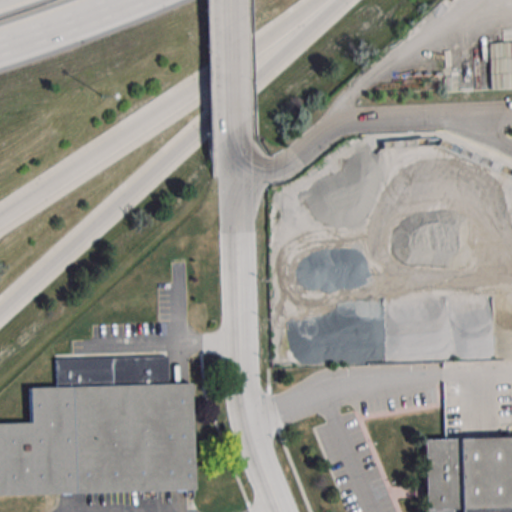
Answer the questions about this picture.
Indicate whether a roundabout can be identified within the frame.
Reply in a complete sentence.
No, no roundabout can be seen from above.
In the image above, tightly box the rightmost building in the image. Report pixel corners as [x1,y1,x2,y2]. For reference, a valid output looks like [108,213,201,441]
[460,436,512,512]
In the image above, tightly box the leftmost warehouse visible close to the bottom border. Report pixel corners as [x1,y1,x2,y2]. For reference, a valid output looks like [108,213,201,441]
[0,384,197,497]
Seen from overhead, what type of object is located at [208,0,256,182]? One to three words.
overpass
